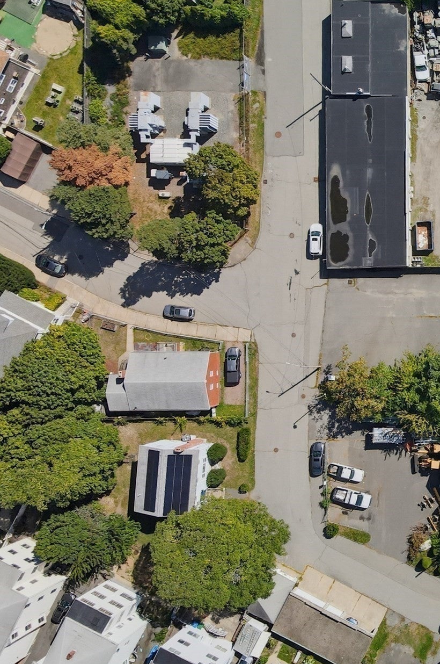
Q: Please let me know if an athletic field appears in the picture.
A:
No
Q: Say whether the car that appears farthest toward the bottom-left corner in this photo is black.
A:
Yes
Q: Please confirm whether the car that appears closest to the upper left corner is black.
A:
Yes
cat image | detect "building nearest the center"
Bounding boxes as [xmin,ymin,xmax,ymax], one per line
[106,343,218,412]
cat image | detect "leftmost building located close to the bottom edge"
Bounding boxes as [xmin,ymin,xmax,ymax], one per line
[0,528,60,664]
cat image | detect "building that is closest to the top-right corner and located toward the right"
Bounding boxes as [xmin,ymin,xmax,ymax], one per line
[331,0,411,100]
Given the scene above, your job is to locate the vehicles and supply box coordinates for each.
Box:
[326,462,365,482]
[163,304,196,320]
[33,254,69,277]
[52,592,76,623]
[223,347,243,384]
[307,222,324,257]
[236,653,254,664]
[411,444,440,465]
[411,39,431,86]
[331,488,371,508]
[309,443,325,476]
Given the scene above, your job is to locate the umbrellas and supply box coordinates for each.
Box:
[18,52,32,66]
